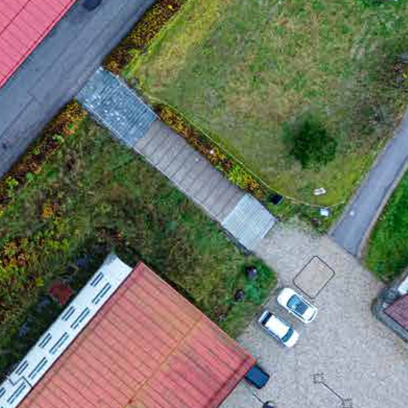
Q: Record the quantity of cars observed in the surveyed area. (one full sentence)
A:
There are 3 cars in the image.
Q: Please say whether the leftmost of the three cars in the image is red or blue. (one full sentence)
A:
The leftmost of the three cars looks blue in the image.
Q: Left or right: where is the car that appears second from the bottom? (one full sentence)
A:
You can find the car that appears second from the bottom on the right side of the picture.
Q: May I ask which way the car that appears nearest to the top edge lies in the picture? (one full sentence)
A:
The car that appears nearest to the top edge runs diagonally in the image.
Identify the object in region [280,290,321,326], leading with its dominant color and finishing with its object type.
white car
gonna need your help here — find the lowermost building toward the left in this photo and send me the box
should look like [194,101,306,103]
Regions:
[0,250,255,408]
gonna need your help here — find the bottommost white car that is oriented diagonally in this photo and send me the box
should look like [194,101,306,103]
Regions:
[261,313,302,348]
